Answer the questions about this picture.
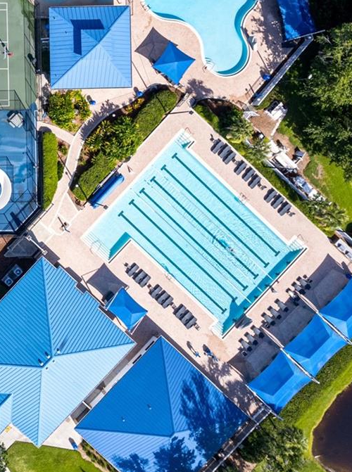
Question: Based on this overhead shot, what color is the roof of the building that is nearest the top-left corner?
blue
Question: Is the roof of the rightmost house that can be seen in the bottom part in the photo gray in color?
No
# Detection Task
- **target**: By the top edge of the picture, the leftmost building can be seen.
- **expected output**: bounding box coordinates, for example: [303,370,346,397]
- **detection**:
[48,6,132,89]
